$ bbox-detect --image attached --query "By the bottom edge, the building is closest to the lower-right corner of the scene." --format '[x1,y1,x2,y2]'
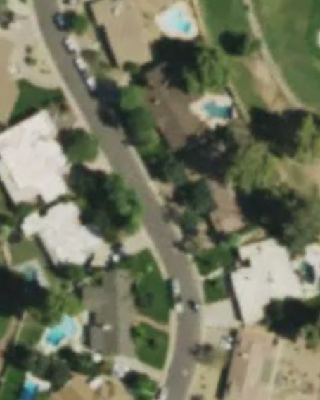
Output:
[220,324,278,400]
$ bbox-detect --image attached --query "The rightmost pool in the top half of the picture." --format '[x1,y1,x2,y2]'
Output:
[201,93,235,127]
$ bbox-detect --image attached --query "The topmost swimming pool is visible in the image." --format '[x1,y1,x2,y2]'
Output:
[158,2,198,37]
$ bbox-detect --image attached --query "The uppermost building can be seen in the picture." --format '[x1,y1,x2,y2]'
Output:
[90,0,162,68]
